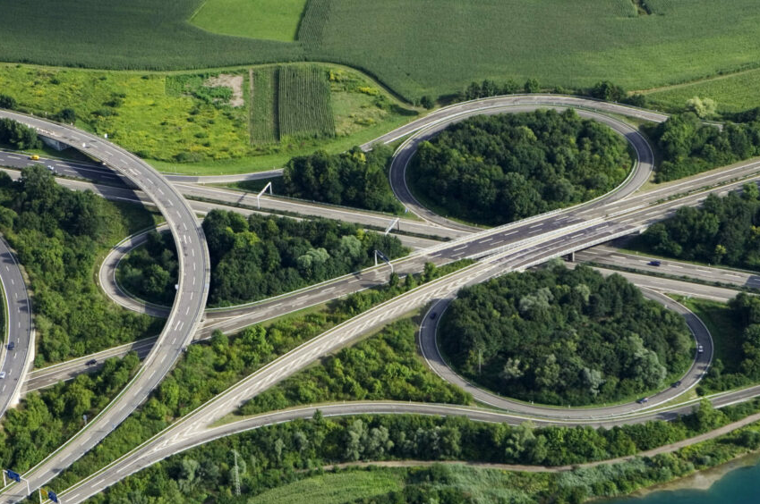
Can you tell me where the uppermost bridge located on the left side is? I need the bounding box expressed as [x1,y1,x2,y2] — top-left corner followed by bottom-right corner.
[60,129,210,371]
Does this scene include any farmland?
Yes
